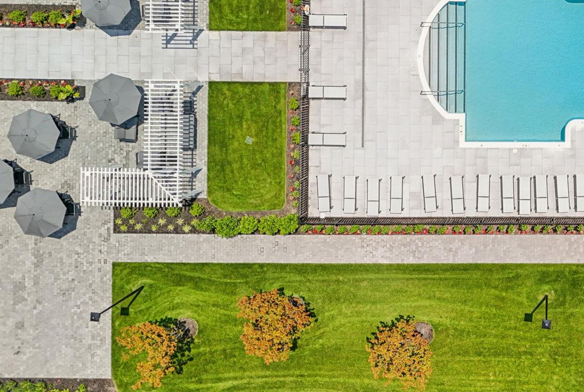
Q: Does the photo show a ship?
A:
No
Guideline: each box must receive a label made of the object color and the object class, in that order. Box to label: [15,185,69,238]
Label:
gray umbrella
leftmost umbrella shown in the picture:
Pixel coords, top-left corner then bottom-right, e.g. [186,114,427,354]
[0,157,19,202]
